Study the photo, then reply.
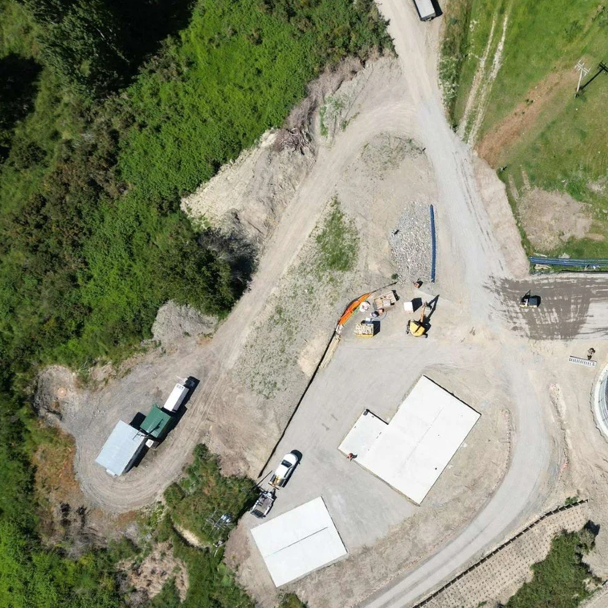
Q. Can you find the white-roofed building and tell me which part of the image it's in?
bottom left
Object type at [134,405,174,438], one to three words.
shed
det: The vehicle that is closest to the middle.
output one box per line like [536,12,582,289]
[407,301,429,339]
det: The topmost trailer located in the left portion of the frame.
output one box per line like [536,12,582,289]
[157,376,191,414]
